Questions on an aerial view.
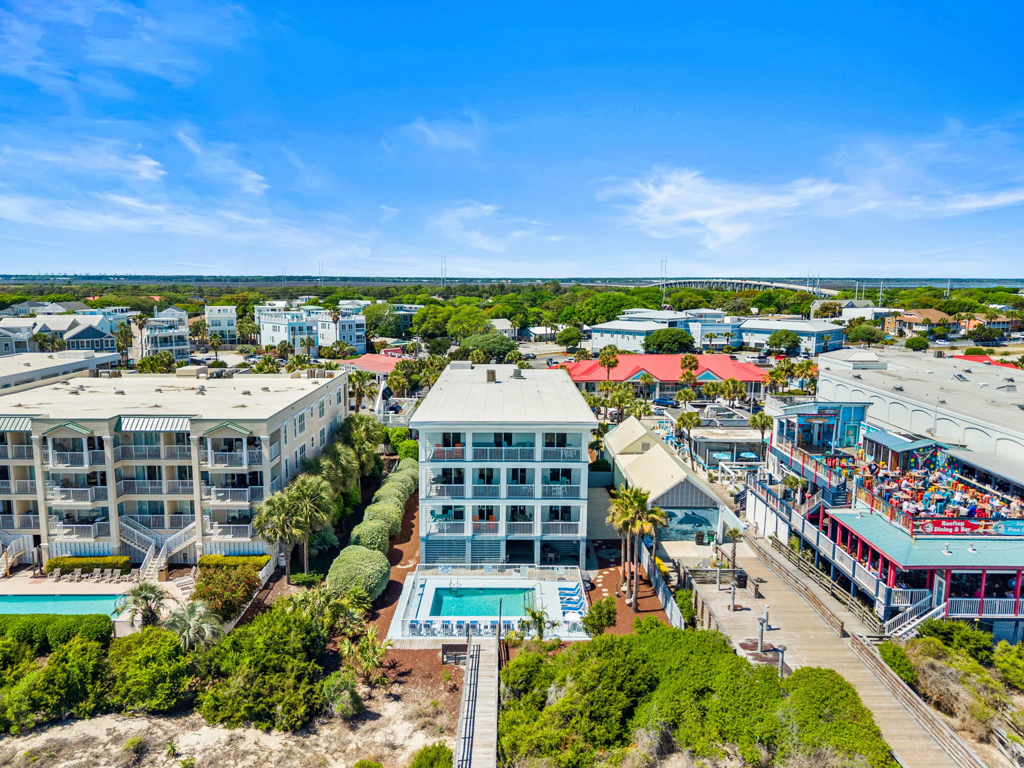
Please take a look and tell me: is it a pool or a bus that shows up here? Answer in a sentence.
Visible in the photo is a pool.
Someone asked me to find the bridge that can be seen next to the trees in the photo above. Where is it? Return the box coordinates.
[639,279,843,294]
